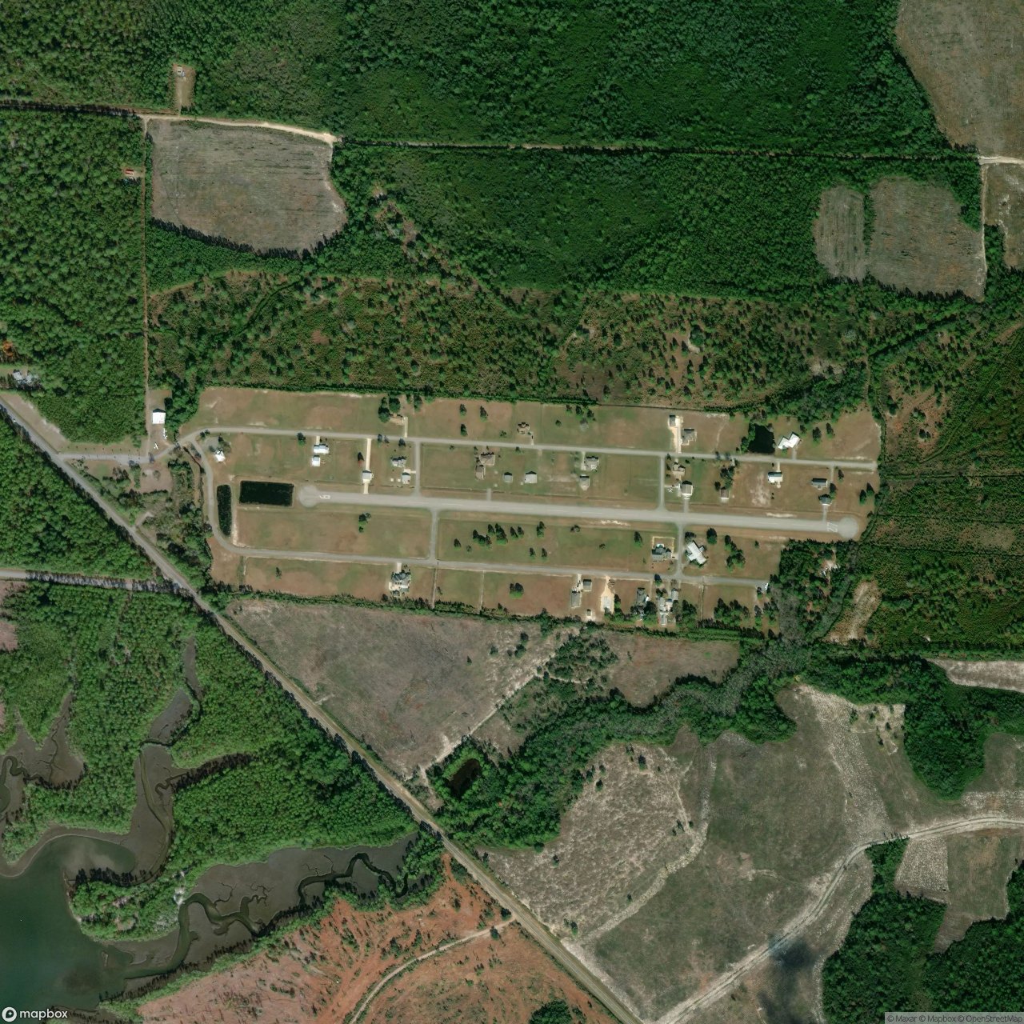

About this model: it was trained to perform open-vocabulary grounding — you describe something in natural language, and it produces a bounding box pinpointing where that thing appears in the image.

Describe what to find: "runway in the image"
[300,486,860,537]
